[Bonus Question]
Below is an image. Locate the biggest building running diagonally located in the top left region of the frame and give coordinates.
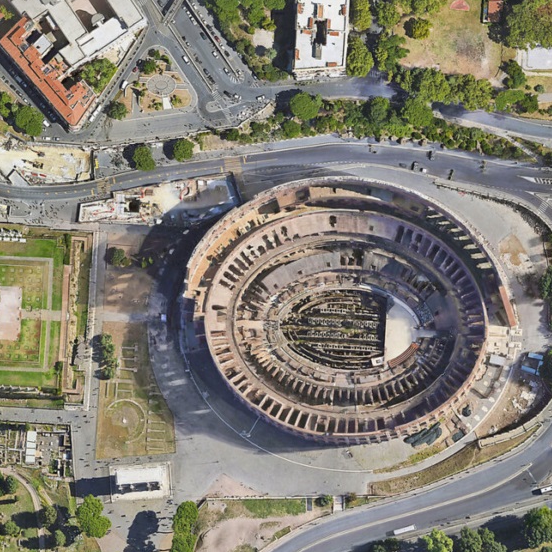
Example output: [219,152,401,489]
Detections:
[1,16,98,134]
